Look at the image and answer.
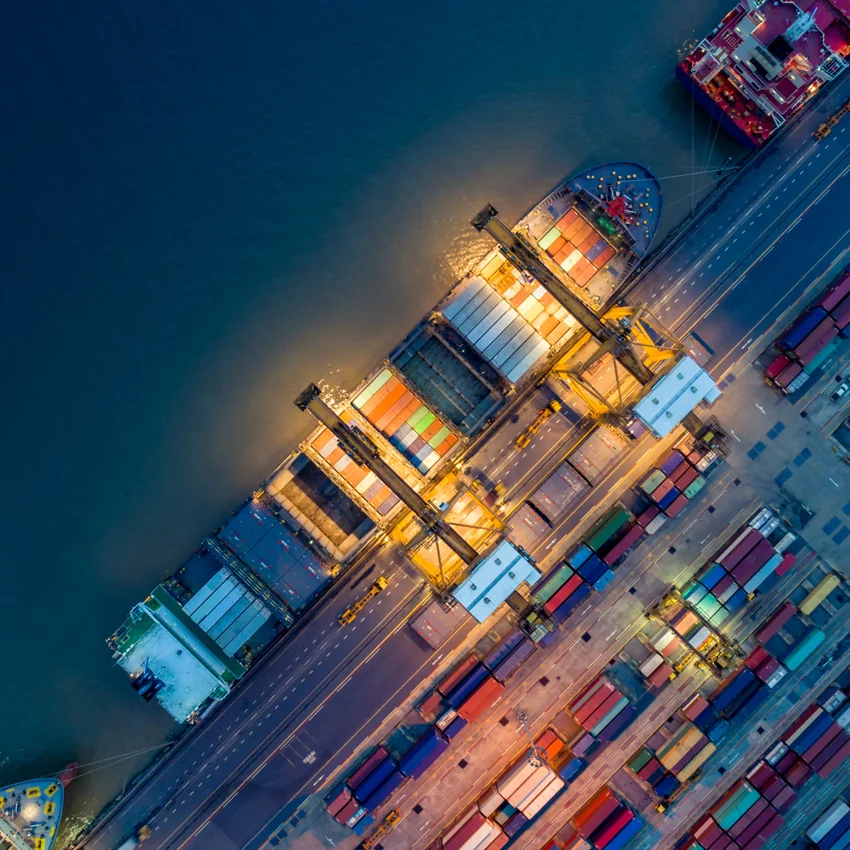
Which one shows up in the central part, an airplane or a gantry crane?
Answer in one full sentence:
The one visible in the central part is a gantry crane.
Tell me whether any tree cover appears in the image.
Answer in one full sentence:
No, the picture contains no tree cover.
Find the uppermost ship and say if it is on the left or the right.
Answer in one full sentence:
The uppermost ship sits on the right side.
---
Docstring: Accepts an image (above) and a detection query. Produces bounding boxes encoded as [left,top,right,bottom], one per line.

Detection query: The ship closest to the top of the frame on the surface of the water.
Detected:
[679,0,850,146]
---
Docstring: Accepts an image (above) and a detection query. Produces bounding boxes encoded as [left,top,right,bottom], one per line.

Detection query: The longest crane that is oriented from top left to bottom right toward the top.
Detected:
[471,204,721,445]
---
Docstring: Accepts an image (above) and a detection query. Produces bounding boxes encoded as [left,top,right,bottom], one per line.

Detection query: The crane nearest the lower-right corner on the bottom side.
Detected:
[642,584,748,685]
